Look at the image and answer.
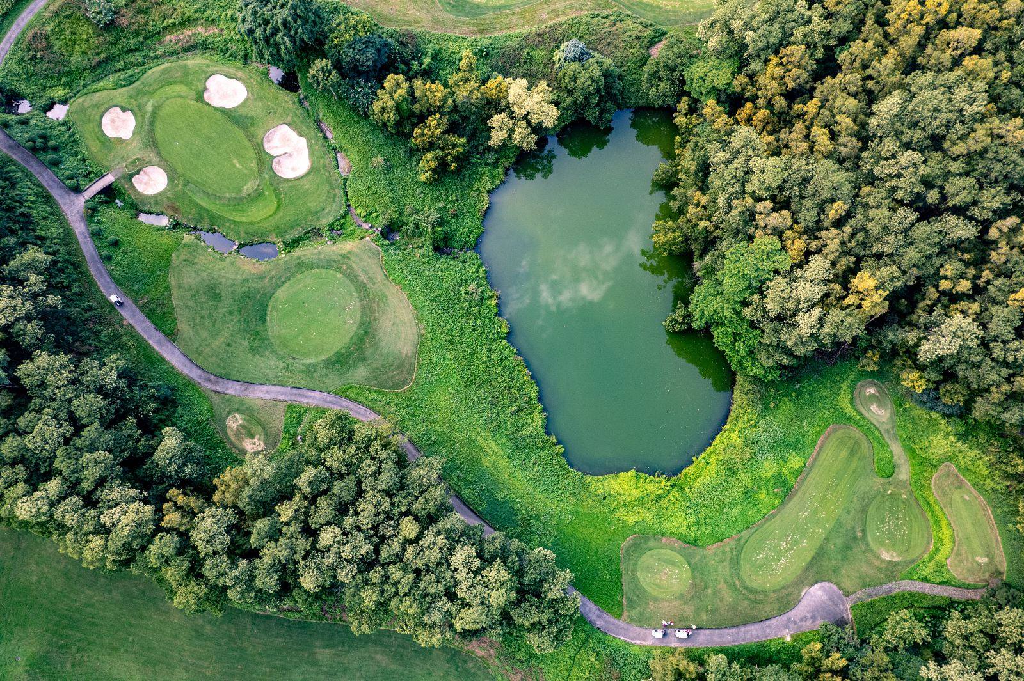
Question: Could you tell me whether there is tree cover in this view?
Yes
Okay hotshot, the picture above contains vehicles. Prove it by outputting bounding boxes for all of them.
[674,630,687,638]
[651,630,663,638]
[110,295,122,305]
